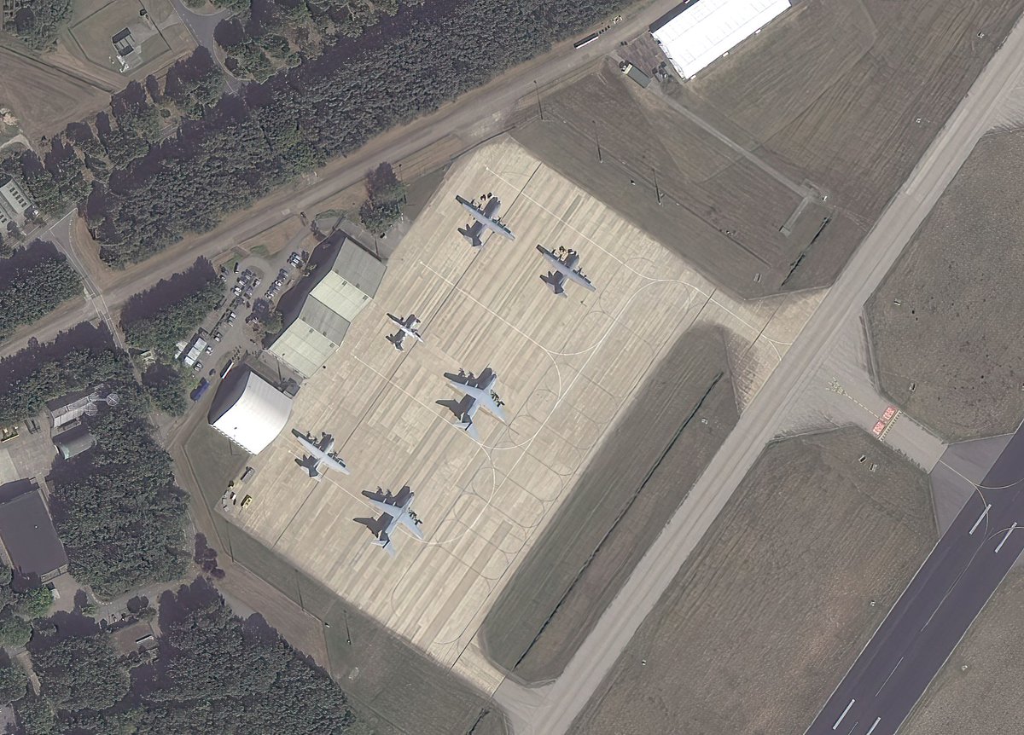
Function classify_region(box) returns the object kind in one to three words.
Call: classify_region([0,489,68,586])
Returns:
building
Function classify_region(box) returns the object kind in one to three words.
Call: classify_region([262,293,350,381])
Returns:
hangar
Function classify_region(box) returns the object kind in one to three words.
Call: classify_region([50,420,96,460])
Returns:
shed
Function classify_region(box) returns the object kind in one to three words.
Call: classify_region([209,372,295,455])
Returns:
hangar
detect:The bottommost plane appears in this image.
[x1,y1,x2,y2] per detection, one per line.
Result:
[367,491,424,559]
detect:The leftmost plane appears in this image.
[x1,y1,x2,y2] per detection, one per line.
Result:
[296,436,351,484]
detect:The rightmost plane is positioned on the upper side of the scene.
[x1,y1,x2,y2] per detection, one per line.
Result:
[542,252,598,300]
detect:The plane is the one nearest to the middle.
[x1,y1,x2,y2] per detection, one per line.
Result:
[449,375,506,441]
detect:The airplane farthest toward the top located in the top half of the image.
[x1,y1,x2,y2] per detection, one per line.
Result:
[461,201,517,249]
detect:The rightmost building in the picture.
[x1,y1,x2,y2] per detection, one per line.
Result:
[645,0,793,78]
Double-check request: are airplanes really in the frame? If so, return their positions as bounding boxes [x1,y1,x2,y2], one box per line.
[367,491,424,559]
[542,252,598,300]
[390,319,425,350]
[449,375,506,441]
[296,436,351,484]
[461,201,517,249]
